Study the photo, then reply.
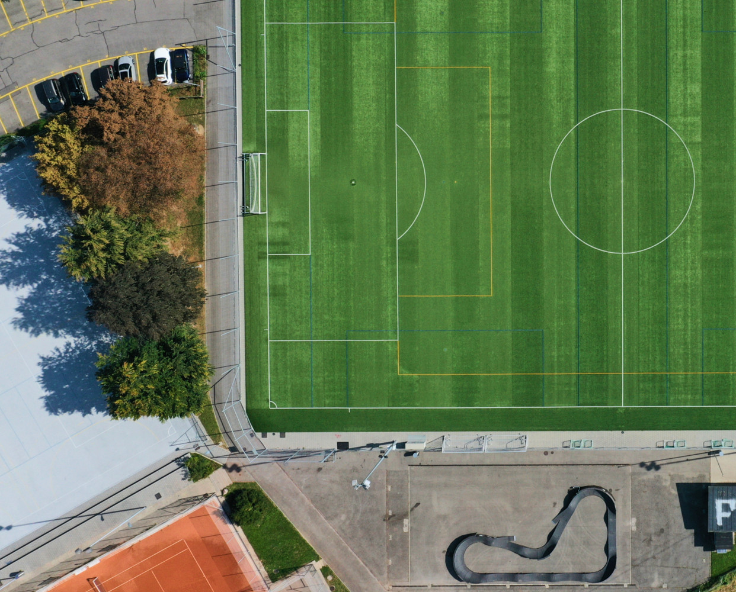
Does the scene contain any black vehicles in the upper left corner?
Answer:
Yes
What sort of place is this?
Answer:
sports ground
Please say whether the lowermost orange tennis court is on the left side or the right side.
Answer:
left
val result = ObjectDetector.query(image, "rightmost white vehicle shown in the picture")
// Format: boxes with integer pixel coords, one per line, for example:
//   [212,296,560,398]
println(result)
[153,47,173,85]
